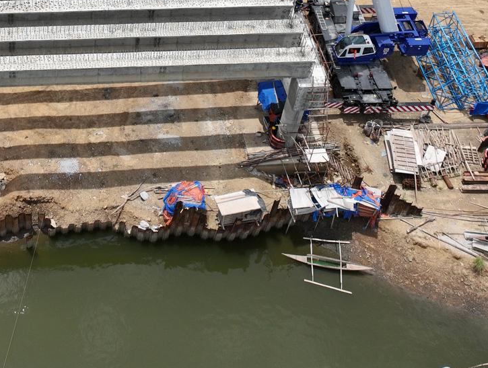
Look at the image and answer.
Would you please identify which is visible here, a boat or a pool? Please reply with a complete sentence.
Looking from above, you can make out a boat.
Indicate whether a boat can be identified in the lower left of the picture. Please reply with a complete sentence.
No, I can find no boat in the lower left of the picture.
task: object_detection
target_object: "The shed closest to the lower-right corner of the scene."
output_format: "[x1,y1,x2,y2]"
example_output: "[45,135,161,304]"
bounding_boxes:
[284,182,383,244]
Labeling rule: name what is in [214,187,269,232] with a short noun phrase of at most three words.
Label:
shed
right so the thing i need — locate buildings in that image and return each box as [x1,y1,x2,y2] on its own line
[214,187,269,232]
[284,182,383,244]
